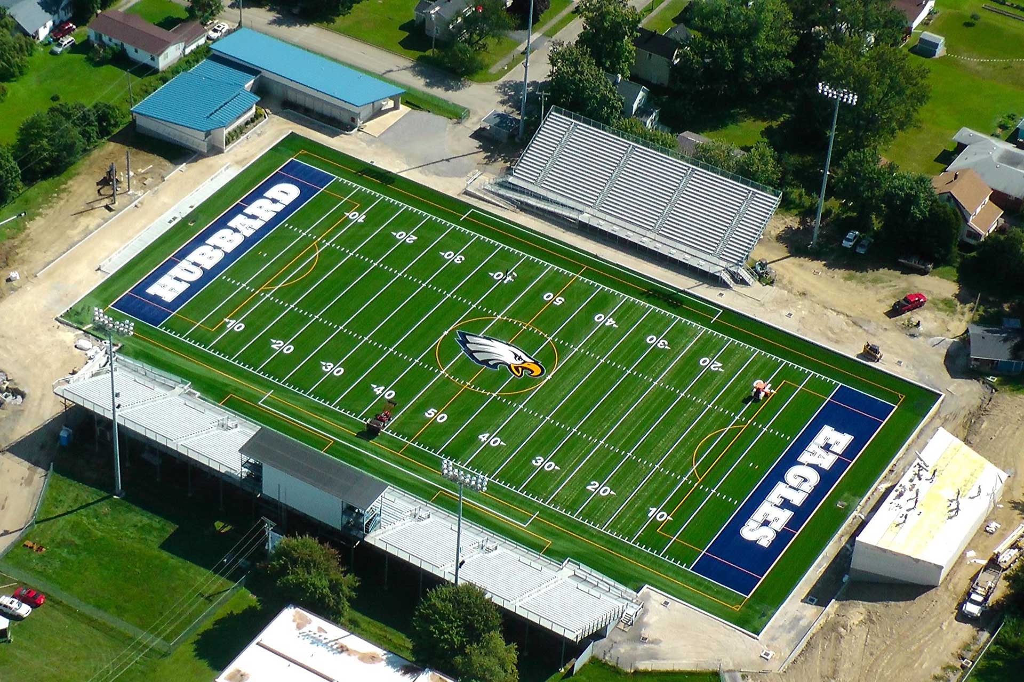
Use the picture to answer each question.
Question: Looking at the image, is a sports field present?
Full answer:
Yes, the photo shows a sports field.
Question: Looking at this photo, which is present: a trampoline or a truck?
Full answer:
Visible in the photo is a truck.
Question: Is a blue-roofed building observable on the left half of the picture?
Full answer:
Yes, a blue-roofed building is visible on the left half of the picture.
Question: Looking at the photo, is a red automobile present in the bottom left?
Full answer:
Yes, I can see a red automobile in the bottom left.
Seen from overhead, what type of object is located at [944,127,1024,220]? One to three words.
house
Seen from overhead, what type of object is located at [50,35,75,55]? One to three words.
vehicle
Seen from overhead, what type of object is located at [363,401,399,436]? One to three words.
work vehicle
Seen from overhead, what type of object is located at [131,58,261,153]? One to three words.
building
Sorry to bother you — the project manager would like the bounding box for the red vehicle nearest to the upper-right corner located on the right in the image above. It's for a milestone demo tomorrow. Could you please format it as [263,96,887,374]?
[892,295,927,314]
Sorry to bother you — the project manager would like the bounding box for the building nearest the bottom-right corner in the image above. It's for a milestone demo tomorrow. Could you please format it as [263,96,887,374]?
[844,425,1010,586]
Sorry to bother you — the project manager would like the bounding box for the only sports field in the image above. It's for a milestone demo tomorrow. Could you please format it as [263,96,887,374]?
[58,133,942,636]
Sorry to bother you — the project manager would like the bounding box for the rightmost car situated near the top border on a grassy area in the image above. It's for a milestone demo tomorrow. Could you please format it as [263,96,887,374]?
[206,22,228,39]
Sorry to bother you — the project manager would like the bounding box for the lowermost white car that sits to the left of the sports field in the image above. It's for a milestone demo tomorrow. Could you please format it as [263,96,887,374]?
[0,594,31,620]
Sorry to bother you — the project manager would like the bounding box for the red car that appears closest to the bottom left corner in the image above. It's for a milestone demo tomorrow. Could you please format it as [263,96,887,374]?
[11,587,47,609]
